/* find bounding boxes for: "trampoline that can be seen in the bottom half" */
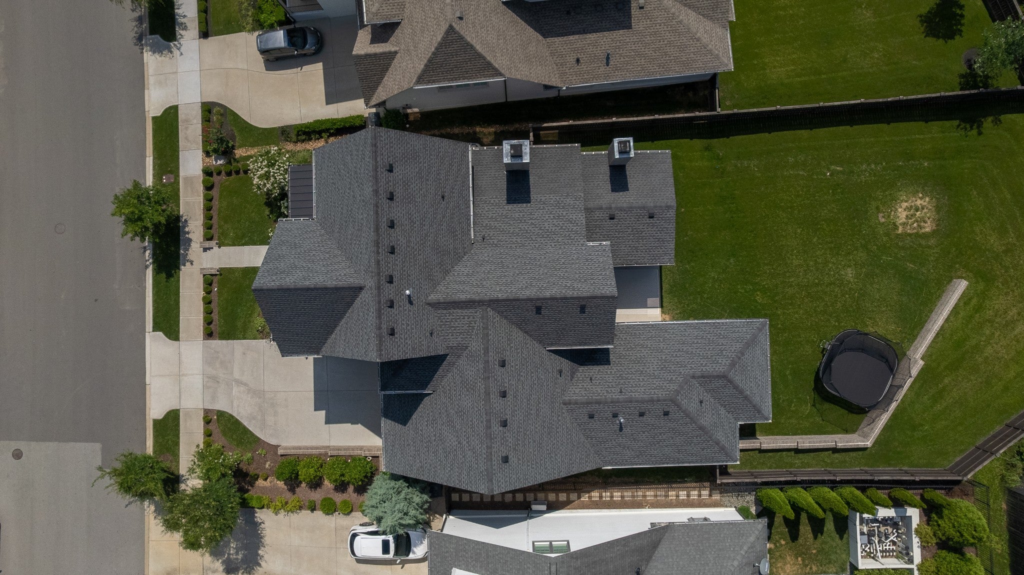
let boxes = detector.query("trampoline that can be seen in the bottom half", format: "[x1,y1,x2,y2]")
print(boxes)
[815,328,912,418]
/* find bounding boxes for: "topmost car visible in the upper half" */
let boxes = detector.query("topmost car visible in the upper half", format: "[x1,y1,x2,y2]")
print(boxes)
[255,25,323,63]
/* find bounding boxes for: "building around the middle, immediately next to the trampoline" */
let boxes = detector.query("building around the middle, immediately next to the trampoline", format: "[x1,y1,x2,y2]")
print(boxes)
[253,127,774,495]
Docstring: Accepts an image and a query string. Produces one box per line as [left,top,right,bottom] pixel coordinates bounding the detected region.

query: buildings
[426,505,770,575]
[274,0,736,112]
[253,127,774,495]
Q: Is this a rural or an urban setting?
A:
urban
